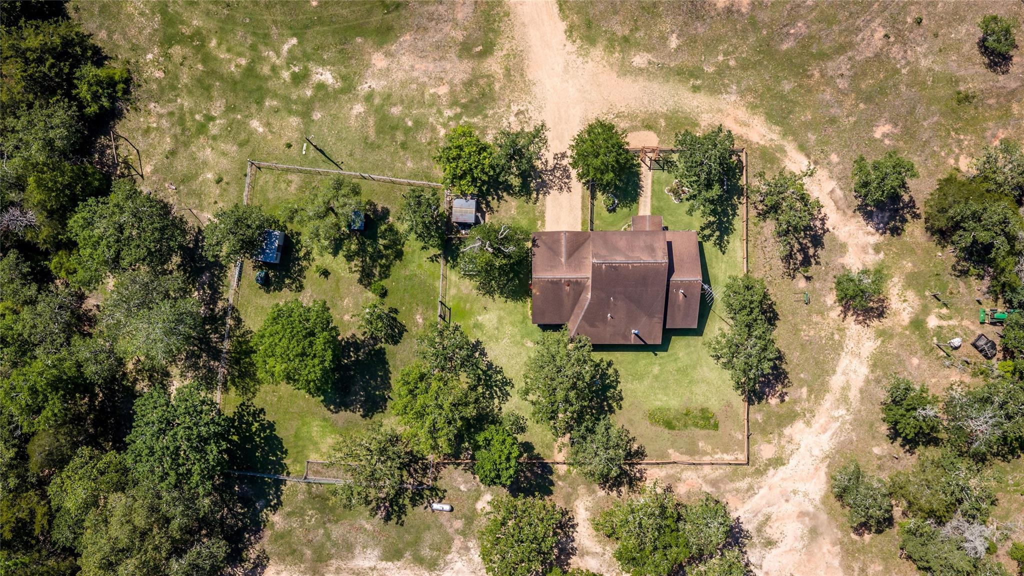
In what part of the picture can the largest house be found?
center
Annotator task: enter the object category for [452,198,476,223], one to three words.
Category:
shed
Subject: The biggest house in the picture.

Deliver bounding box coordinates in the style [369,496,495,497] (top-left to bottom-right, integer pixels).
[531,215,703,344]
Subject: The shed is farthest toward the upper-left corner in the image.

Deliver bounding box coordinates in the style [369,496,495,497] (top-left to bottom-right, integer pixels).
[256,231,293,263]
